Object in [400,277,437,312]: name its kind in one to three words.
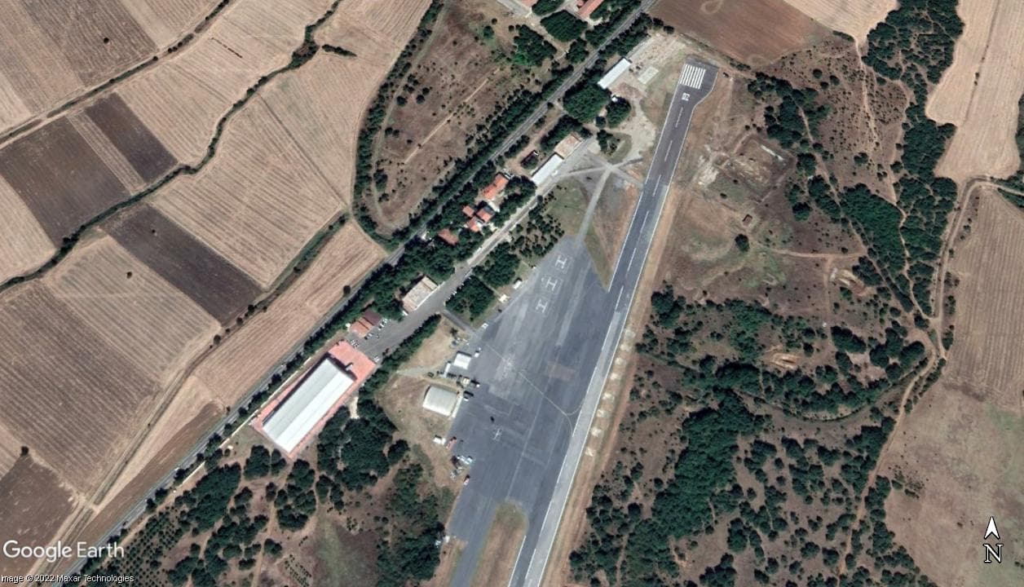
building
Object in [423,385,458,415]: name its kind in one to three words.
hangar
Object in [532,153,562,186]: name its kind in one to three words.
shed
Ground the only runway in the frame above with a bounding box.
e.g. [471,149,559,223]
[508,56,719,587]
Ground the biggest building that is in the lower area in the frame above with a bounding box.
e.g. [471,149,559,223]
[262,356,355,453]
